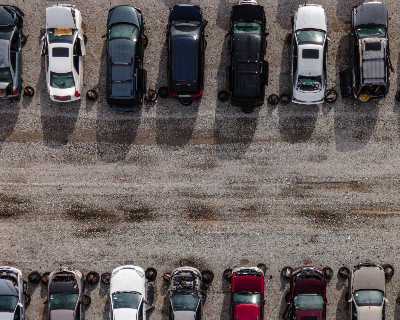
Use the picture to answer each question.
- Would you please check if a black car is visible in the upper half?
Yes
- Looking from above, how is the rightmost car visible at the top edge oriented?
from top to bottom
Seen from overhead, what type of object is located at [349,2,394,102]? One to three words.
car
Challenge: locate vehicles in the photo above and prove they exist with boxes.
[102,5,145,111]
[282,266,330,320]
[290,5,332,105]
[44,267,87,320]
[226,4,269,107]
[41,5,89,102]
[166,266,204,320]
[349,2,394,102]
[347,264,389,320]
[226,266,269,320]
[0,6,24,100]
[106,265,147,320]
[163,5,207,100]
[0,266,27,320]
